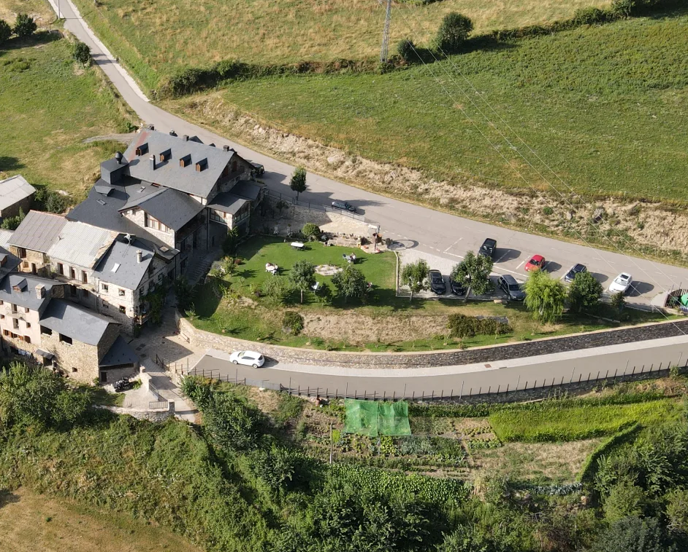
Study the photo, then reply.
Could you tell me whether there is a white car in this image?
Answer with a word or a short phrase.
Yes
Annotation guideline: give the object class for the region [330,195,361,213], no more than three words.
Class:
car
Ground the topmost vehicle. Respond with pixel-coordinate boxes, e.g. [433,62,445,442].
[245,154,267,176]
